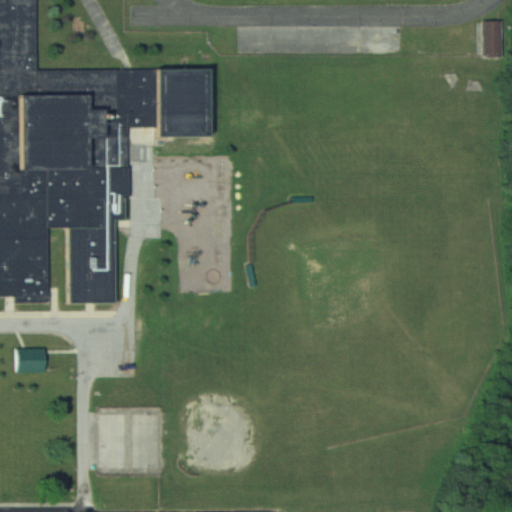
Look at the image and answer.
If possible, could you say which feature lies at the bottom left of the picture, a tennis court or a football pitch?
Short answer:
tennis court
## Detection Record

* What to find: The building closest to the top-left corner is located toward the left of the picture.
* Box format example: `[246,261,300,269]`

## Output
[0,0,212,304]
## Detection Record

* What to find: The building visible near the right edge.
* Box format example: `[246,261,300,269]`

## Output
[480,20,504,58]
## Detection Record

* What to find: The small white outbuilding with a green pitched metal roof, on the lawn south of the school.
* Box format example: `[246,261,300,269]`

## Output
[14,348,49,372]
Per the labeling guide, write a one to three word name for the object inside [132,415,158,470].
tennis court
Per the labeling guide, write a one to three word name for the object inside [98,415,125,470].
tennis court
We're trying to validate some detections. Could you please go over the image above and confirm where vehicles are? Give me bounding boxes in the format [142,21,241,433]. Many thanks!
[120,274,129,303]
[118,364,134,370]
